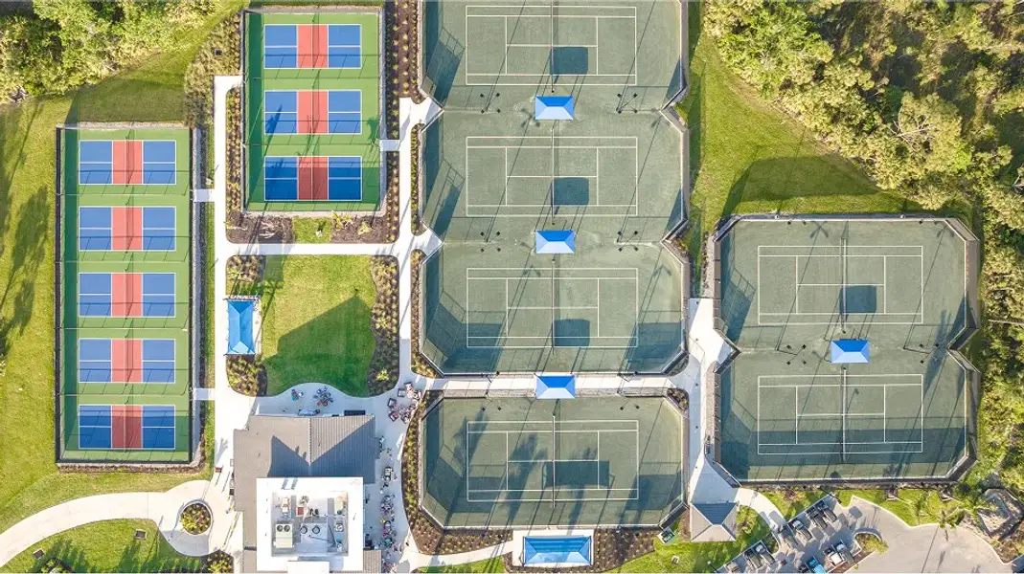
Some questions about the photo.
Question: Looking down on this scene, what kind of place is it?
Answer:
sports ground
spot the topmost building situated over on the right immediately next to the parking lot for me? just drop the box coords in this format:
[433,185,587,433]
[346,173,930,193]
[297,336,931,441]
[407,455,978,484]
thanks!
[686,499,737,543]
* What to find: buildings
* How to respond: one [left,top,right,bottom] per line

[686,499,737,543]
[234,414,382,574]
